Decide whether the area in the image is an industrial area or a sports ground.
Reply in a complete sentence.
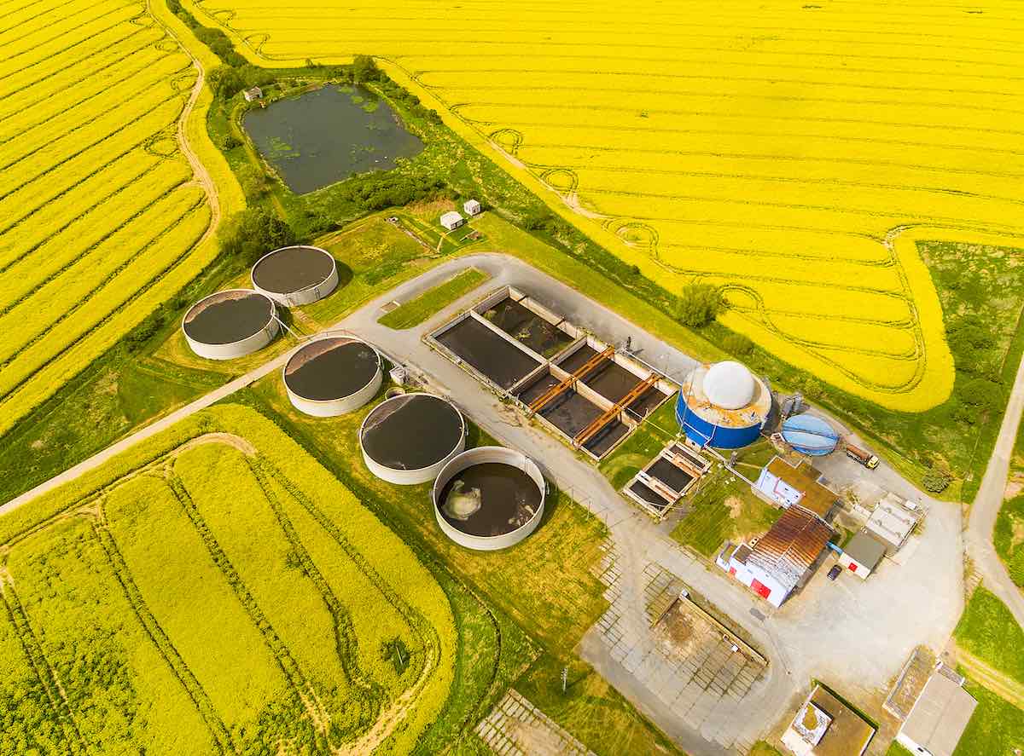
The area seen from above is an industrial area.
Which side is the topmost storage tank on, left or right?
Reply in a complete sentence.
The topmost storage tank appears in the left half of the scene.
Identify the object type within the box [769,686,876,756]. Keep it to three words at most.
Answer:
house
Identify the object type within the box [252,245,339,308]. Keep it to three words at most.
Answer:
storage tank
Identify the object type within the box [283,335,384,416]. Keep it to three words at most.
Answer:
storage tank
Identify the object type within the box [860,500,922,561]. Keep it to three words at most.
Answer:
building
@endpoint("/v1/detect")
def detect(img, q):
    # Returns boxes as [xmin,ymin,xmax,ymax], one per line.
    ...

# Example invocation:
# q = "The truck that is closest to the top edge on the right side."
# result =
[845,445,881,473]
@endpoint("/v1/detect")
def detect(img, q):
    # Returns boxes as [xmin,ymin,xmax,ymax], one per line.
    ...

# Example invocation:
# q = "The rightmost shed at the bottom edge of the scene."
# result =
[892,659,979,756]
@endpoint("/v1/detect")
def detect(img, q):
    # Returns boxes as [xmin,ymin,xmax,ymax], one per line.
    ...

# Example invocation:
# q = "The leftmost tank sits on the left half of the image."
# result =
[183,289,280,360]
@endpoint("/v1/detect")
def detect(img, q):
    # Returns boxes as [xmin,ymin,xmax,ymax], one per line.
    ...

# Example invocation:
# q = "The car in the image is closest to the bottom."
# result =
[827,566,843,581]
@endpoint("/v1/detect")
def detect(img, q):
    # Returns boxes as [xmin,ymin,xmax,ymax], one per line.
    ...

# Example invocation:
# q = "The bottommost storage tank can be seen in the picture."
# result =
[433,446,549,553]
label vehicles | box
[827,566,843,581]
[845,445,881,473]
